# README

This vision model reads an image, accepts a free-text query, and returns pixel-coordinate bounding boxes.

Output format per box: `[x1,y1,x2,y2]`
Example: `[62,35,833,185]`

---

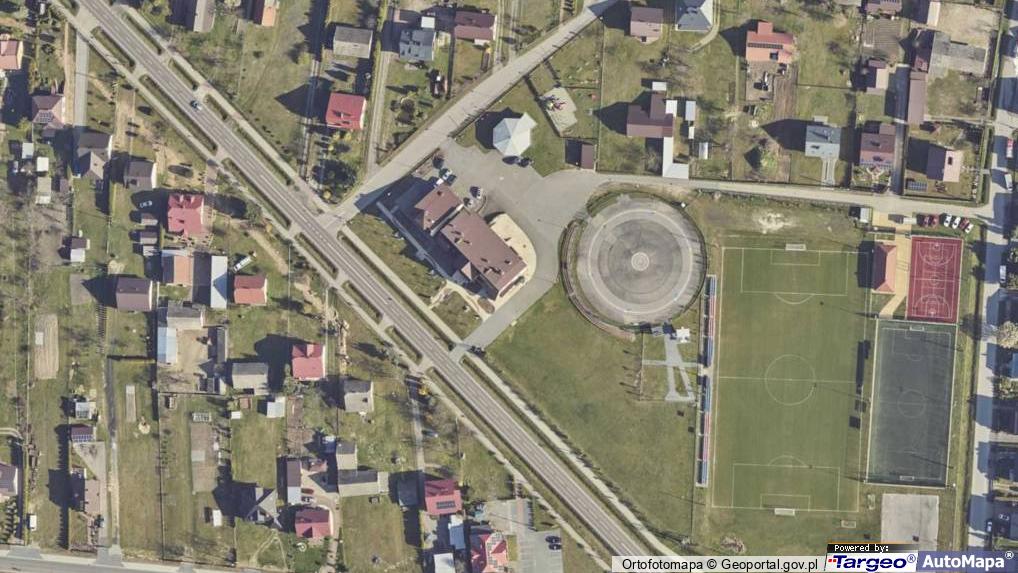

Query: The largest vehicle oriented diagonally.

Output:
[232,256,254,274]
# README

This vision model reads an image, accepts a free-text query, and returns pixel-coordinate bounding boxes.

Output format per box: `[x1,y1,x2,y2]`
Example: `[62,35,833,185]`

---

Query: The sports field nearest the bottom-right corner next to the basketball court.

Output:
[869,320,957,486]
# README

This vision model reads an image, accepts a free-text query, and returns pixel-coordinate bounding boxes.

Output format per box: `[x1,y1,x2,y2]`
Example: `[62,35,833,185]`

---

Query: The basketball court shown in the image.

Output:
[906,236,963,325]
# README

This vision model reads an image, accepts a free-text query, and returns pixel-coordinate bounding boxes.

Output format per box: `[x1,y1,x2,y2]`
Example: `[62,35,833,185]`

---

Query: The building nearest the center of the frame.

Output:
[412,182,526,290]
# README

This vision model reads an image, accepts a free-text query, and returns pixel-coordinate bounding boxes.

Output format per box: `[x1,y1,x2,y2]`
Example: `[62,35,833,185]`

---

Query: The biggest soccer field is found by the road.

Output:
[708,244,870,515]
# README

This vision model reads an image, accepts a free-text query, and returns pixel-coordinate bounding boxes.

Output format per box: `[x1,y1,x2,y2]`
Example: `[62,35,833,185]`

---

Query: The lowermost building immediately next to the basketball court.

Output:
[873,242,897,293]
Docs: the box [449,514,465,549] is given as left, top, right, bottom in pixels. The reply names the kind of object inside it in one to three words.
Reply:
shed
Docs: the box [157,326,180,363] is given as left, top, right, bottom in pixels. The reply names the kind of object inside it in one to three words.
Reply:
barn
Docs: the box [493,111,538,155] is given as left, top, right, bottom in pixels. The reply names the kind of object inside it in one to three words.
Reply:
building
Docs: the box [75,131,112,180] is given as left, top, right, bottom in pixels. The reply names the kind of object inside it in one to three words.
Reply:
house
